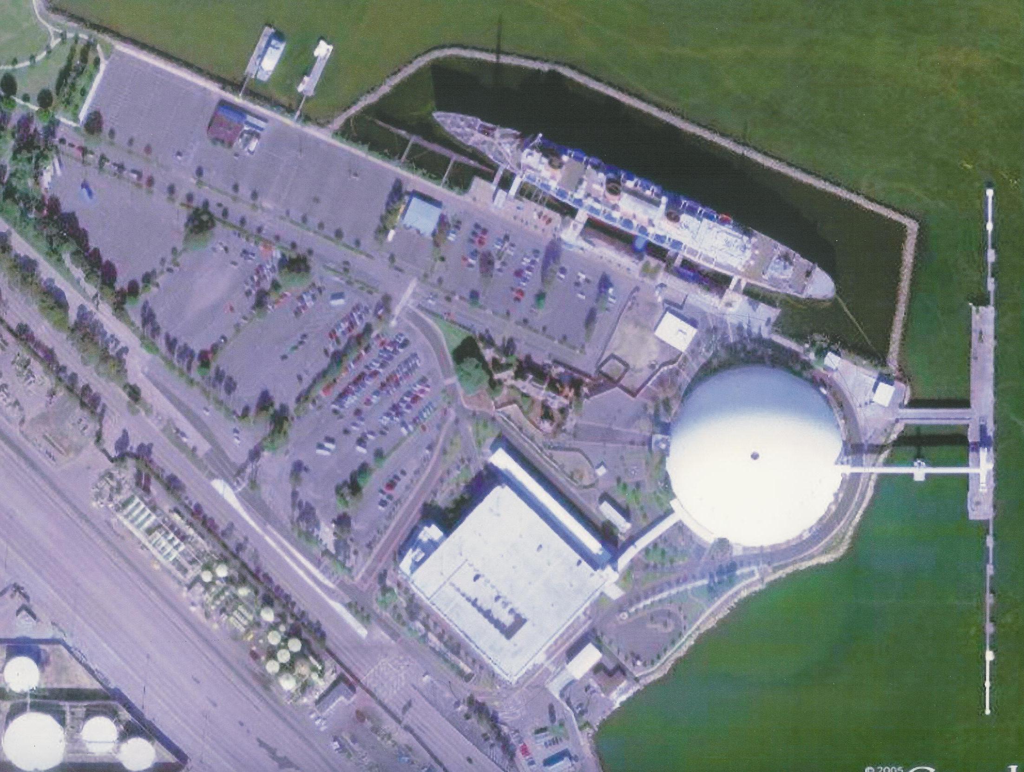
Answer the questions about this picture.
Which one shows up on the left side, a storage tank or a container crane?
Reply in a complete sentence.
What appears on the left side is a storage tank.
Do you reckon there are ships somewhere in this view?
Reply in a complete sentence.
Yes, I can see a ship in this picture.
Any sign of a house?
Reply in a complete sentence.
Yes, there is a house in the image.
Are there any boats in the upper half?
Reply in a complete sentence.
Yes, the scene does show a boat in the upper half.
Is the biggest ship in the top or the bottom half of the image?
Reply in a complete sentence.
The biggest ship sits in the top half of the picture.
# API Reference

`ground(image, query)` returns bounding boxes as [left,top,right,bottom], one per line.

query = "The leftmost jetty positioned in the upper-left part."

[243,27,275,90]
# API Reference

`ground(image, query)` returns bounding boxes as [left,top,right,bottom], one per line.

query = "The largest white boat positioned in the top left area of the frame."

[257,38,285,82]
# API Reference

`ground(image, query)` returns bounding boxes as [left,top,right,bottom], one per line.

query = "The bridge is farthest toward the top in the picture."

[899,408,972,424]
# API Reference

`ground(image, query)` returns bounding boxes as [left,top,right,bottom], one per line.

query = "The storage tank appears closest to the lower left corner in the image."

[2,712,65,772]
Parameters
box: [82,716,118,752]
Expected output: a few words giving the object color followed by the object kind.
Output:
white storage tank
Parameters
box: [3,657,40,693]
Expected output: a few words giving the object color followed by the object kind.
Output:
white storage tank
